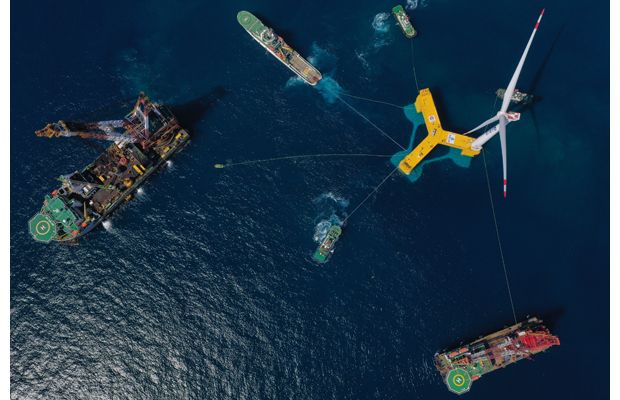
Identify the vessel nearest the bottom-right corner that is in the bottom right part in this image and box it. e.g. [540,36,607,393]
[437,313,563,394]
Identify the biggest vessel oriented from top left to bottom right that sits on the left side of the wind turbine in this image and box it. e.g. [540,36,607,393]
[233,11,323,91]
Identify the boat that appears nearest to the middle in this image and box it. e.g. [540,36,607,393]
[314,223,342,263]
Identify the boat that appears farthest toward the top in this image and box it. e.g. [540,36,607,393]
[393,6,417,42]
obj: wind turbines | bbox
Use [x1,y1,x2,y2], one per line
[390,10,542,195]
